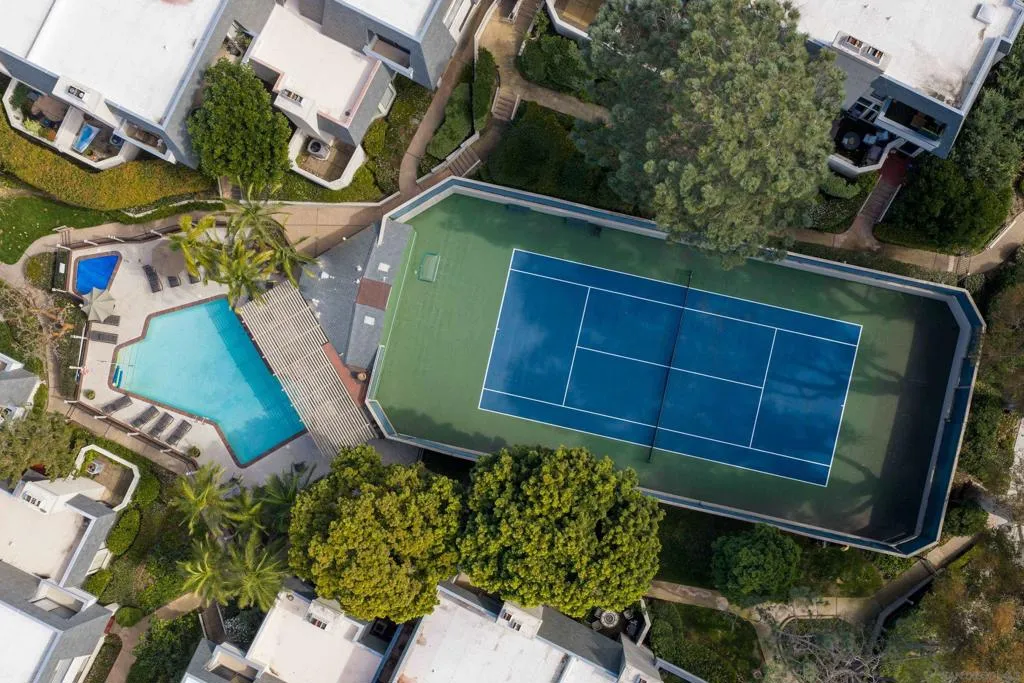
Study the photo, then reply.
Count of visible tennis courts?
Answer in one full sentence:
I count just 1 tennis court.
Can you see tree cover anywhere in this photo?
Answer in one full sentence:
Yes, some tree cover is visible.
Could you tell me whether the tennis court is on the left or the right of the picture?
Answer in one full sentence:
The tennis court appears in the right half of the scene.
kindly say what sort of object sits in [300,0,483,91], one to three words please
house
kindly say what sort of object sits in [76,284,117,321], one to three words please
umbrella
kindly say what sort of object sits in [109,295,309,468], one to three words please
swimming pool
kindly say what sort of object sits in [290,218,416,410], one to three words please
building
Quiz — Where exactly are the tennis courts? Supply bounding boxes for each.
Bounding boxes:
[377,195,960,545]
